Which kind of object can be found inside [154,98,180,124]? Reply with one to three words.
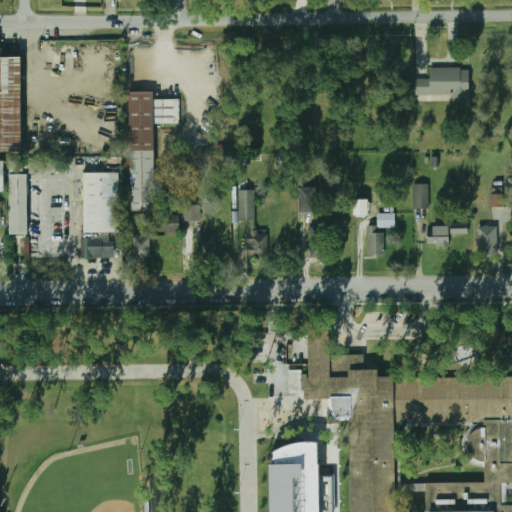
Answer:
building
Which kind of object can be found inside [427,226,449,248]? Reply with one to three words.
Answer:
house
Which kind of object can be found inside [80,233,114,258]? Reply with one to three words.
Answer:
building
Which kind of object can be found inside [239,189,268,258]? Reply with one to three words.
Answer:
house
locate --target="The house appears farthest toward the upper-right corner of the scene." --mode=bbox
[417,66,470,101]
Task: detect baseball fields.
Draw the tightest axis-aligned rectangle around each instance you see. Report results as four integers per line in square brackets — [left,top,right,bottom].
[16,436,140,512]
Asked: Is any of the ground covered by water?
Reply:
No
